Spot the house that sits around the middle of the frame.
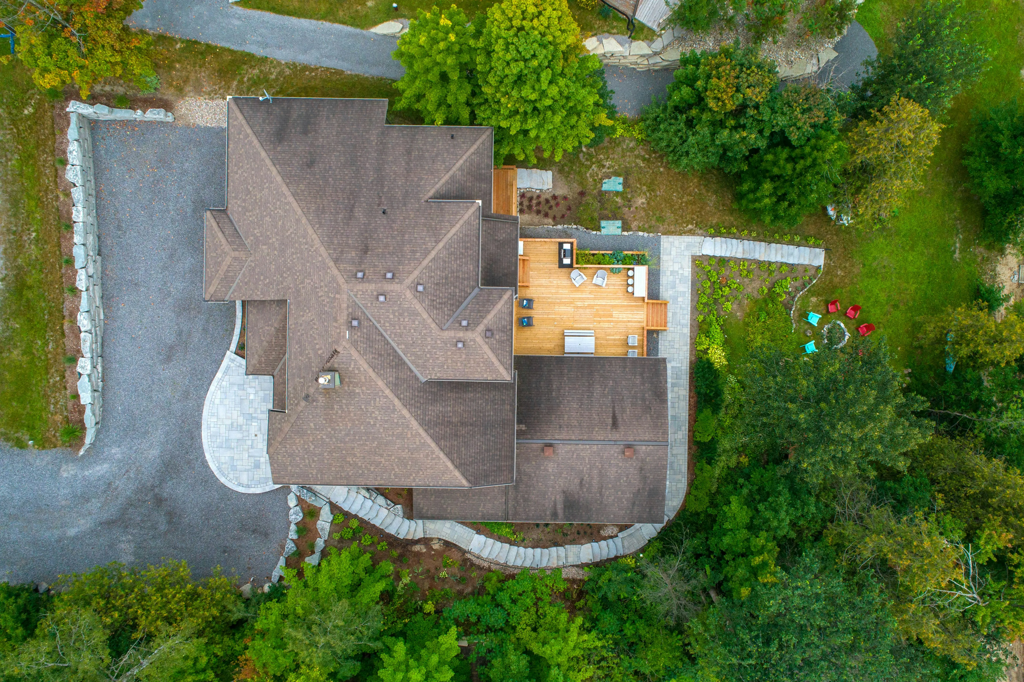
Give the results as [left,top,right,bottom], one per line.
[201,94,669,526]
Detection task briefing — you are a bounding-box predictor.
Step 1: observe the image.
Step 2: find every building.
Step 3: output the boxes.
[603,0,639,18]
[201,94,669,526]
